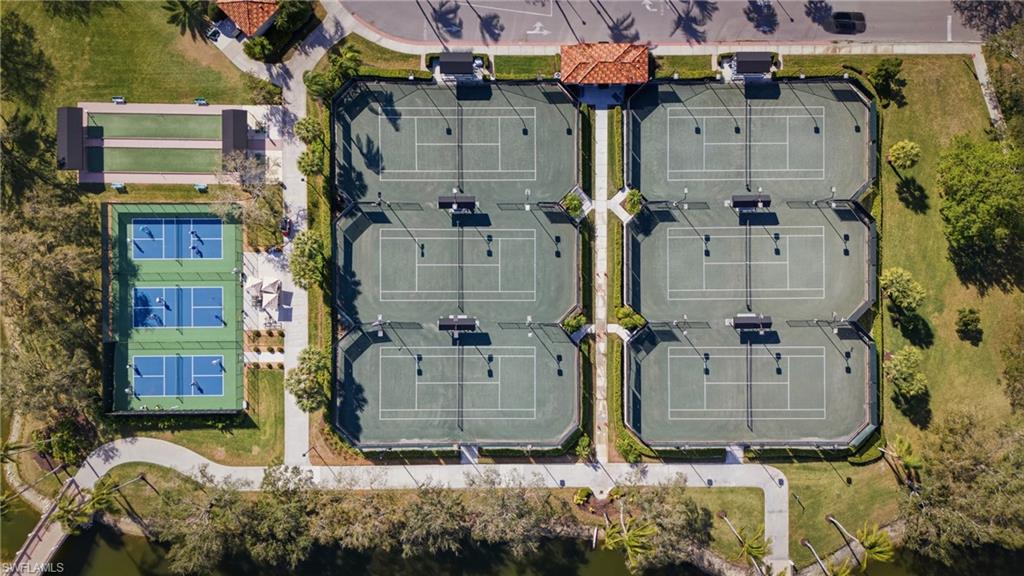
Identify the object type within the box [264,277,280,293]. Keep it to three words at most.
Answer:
umbrella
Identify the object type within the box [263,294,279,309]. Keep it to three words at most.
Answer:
umbrella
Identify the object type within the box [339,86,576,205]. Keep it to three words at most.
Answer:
tennis court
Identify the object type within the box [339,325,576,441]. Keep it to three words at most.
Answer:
tennis court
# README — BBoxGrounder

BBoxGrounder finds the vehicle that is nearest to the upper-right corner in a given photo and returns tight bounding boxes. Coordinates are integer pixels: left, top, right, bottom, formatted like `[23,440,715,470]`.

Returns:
[831,10,865,27]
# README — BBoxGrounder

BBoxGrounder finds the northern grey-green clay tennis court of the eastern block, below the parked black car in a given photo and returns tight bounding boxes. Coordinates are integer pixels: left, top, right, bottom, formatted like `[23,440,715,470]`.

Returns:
[627,85,865,204]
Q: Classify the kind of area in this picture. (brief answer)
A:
sports ground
